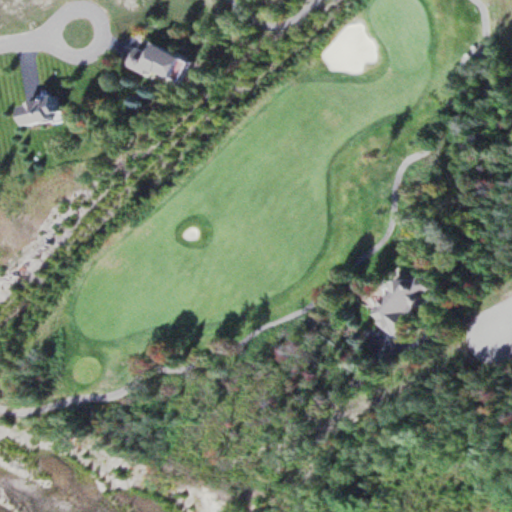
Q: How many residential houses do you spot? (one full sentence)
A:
In total, there are 3 residential houses in the scene.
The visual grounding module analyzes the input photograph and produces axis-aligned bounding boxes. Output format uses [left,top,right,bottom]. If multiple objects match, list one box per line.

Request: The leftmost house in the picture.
[10,89,64,130]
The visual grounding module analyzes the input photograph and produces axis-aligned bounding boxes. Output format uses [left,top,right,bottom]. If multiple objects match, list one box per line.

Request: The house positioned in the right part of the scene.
[363,272,430,338]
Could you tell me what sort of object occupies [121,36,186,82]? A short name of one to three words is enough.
house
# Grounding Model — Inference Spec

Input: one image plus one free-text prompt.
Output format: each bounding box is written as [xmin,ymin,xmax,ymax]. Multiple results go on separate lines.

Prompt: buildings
[363,272,430,338]
[121,36,186,82]
[10,89,64,130]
